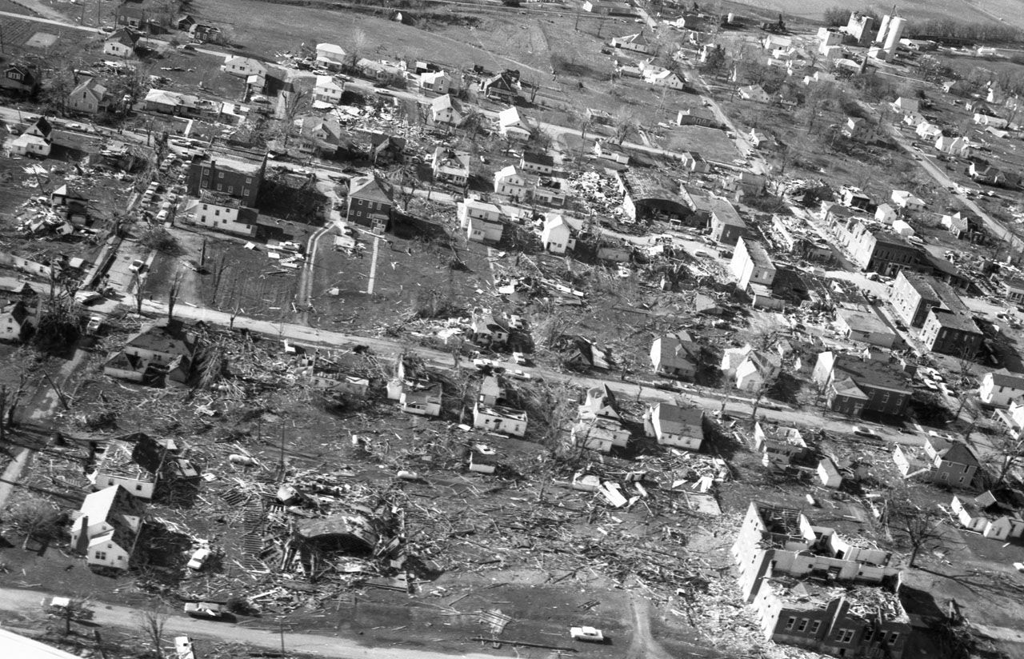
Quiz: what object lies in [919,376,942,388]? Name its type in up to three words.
vehicle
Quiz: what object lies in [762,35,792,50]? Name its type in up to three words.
house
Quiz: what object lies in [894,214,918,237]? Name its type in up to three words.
building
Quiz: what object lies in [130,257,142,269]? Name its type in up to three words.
vehicle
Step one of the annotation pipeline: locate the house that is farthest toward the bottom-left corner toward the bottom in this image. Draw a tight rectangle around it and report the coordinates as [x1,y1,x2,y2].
[63,483,155,577]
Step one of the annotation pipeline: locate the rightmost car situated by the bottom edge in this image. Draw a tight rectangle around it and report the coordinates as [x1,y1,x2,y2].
[571,624,603,639]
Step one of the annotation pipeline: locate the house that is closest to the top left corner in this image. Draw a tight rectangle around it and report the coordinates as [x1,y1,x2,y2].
[0,64,42,97]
